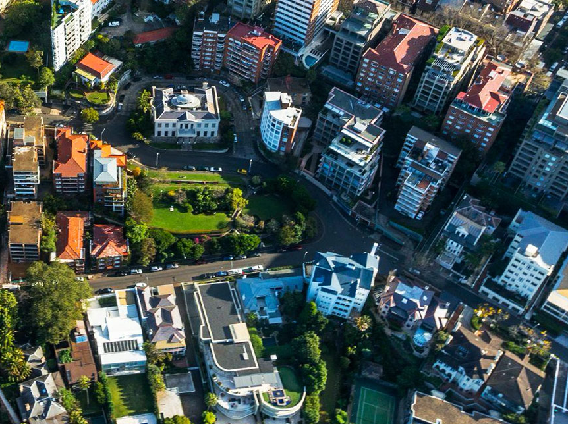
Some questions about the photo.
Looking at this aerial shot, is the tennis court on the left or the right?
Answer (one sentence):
It is on the right.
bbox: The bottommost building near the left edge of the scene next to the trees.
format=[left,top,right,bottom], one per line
[15,371,70,424]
